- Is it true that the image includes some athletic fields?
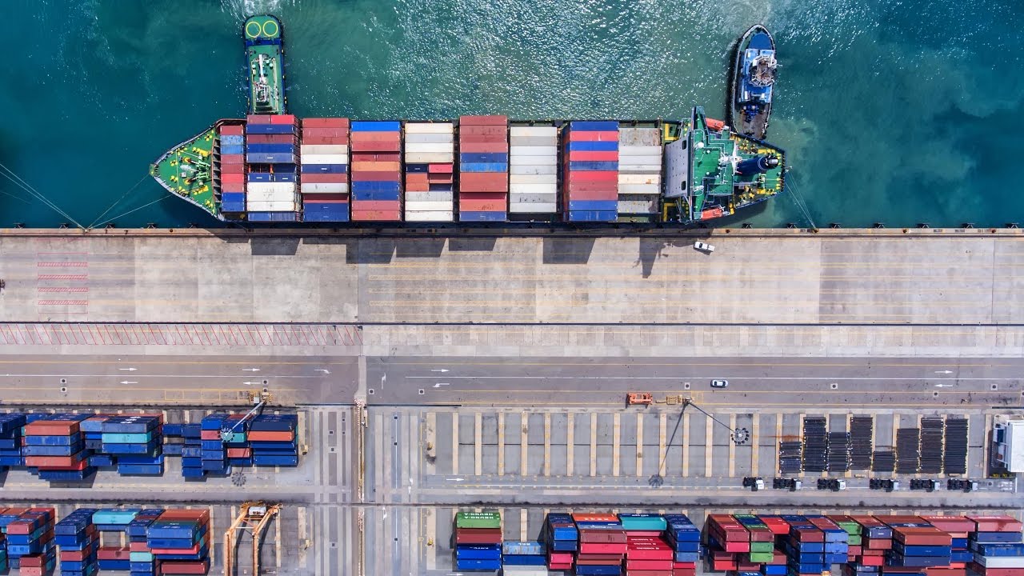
No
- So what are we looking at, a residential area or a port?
port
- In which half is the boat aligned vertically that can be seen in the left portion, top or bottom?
top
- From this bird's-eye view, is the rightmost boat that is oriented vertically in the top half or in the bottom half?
top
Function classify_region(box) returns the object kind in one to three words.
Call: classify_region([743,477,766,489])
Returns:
vehicle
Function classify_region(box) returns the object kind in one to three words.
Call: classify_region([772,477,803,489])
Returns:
vehicle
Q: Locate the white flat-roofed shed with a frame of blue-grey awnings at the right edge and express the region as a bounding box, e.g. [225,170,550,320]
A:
[986,421,1024,473]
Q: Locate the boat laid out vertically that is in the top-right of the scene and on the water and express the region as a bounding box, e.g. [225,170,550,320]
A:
[728,24,777,142]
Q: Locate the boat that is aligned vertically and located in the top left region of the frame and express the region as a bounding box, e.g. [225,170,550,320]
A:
[242,12,287,115]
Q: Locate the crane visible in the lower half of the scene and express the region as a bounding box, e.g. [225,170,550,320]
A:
[223,501,283,576]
